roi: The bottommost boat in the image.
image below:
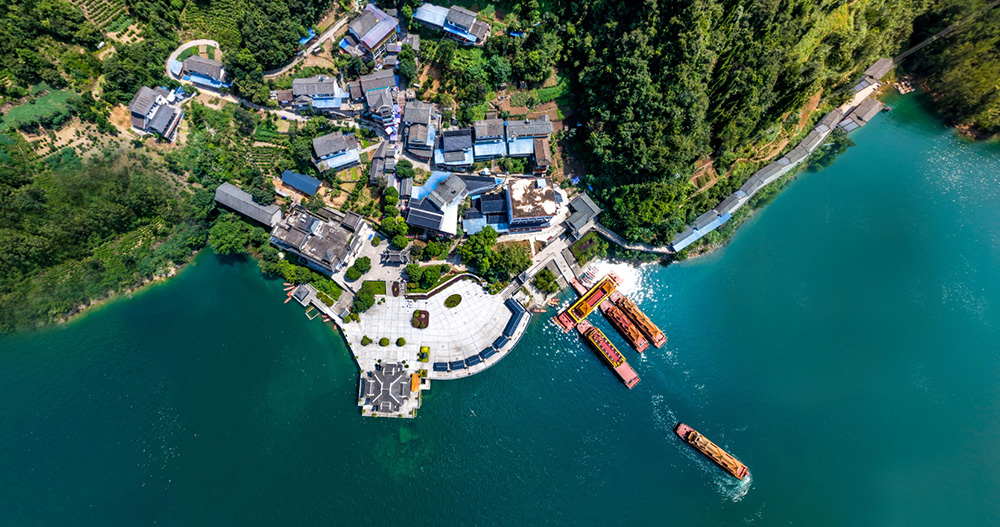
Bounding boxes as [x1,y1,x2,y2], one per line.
[674,426,749,480]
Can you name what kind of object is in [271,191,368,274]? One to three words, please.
building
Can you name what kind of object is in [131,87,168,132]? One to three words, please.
house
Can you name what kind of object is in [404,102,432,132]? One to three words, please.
house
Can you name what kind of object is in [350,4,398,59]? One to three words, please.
building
